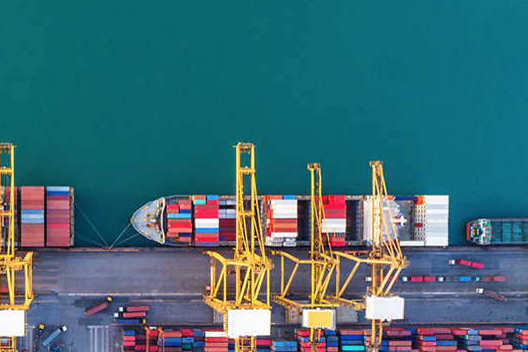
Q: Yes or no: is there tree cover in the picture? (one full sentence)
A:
No, tree cover can't be seen anywhere here.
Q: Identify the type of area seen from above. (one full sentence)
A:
This image shows a port.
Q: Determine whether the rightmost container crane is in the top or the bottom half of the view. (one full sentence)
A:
The bottom half of the photo is where the rightmost container crane is.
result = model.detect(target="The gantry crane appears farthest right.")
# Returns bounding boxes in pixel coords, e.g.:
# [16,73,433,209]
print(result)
[329,162,412,352]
